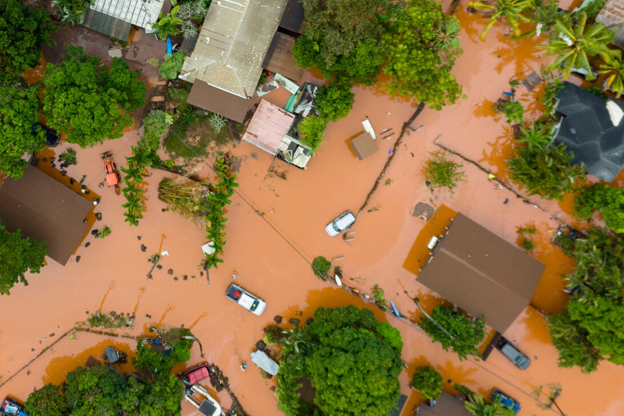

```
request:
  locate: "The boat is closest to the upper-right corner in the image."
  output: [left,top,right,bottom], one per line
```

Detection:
[363,118,376,139]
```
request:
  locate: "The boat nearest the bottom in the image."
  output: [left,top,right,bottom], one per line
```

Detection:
[181,384,223,416]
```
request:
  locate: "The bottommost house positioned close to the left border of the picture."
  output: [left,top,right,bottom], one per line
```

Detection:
[0,164,93,265]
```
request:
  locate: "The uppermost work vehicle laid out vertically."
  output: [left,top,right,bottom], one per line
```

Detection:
[98,145,123,196]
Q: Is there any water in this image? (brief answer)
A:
Yes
